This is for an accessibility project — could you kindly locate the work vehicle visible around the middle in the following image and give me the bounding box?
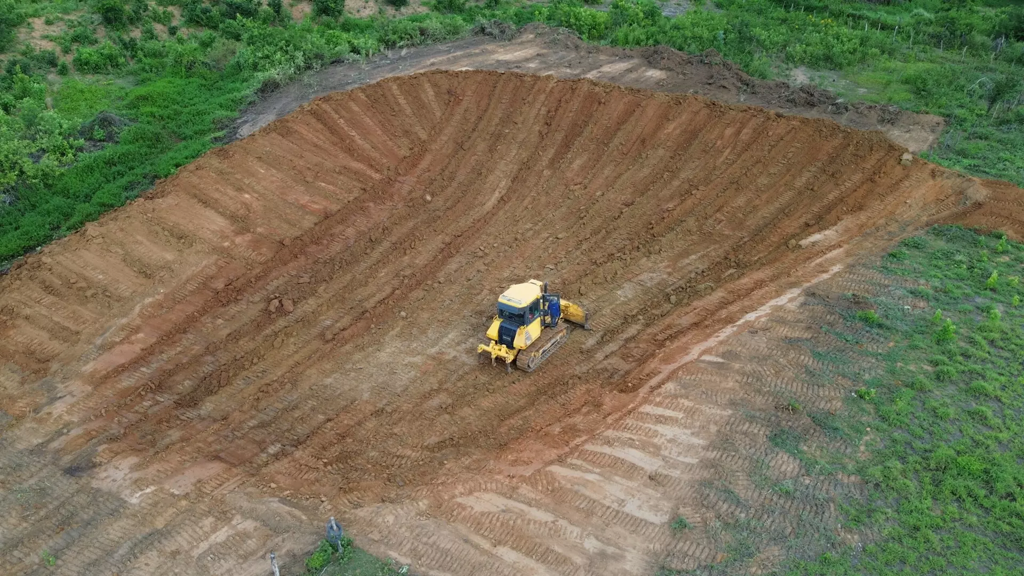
[476,278,591,378]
